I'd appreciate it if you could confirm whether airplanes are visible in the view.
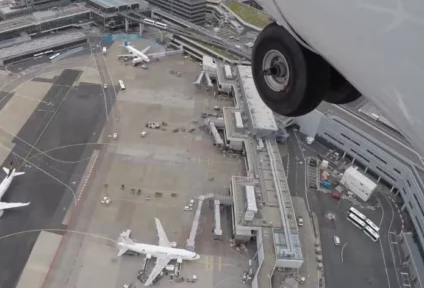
Yes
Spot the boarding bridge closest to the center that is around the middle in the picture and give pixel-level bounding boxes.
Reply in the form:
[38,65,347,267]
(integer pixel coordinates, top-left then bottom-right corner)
[206,120,225,149]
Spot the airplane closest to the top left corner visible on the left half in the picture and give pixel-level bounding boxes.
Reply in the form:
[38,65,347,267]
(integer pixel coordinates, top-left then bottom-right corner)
[115,36,150,62]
